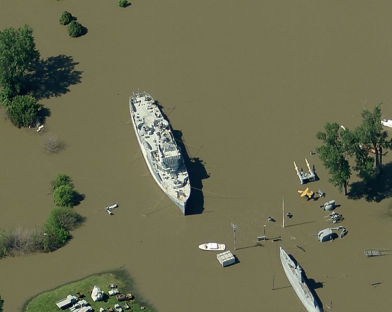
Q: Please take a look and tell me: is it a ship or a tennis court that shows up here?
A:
ship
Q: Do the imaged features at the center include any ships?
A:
Yes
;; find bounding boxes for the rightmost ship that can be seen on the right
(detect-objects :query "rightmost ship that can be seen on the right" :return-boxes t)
[279,242,322,312]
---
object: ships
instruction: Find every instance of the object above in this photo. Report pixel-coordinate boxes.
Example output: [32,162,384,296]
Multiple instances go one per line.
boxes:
[279,242,322,312]
[131,93,188,212]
